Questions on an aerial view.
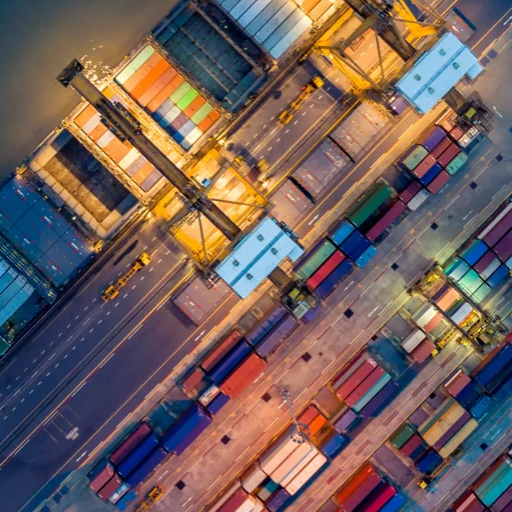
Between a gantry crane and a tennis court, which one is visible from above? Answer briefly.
gantry crane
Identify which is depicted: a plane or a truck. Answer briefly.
truck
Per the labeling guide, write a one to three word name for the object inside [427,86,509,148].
container crane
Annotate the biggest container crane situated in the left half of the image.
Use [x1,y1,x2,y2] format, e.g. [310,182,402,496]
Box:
[57,61,306,301]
